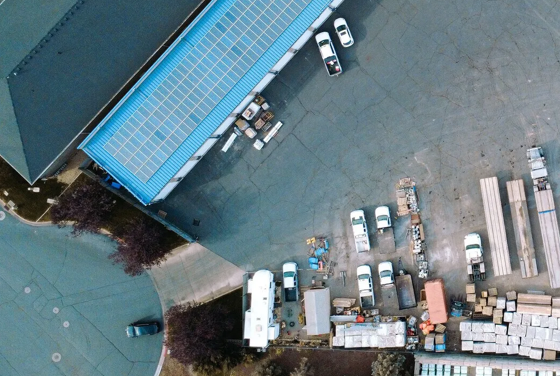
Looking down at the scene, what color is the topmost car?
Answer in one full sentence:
From above, the topmost car appears white.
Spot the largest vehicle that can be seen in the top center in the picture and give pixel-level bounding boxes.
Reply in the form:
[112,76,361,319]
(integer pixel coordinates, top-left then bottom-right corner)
[316,31,344,78]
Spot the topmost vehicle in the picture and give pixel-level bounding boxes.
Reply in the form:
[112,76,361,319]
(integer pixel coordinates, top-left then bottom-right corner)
[334,18,354,48]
